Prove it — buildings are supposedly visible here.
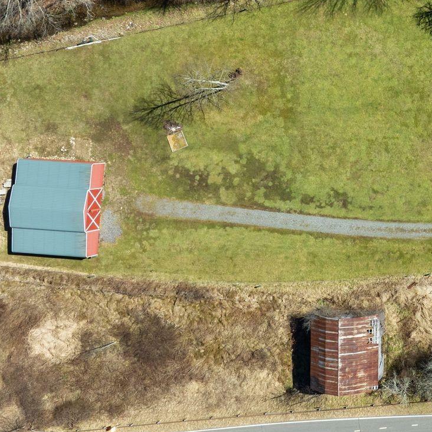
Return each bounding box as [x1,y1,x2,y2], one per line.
[8,158,106,257]
[310,313,385,397]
